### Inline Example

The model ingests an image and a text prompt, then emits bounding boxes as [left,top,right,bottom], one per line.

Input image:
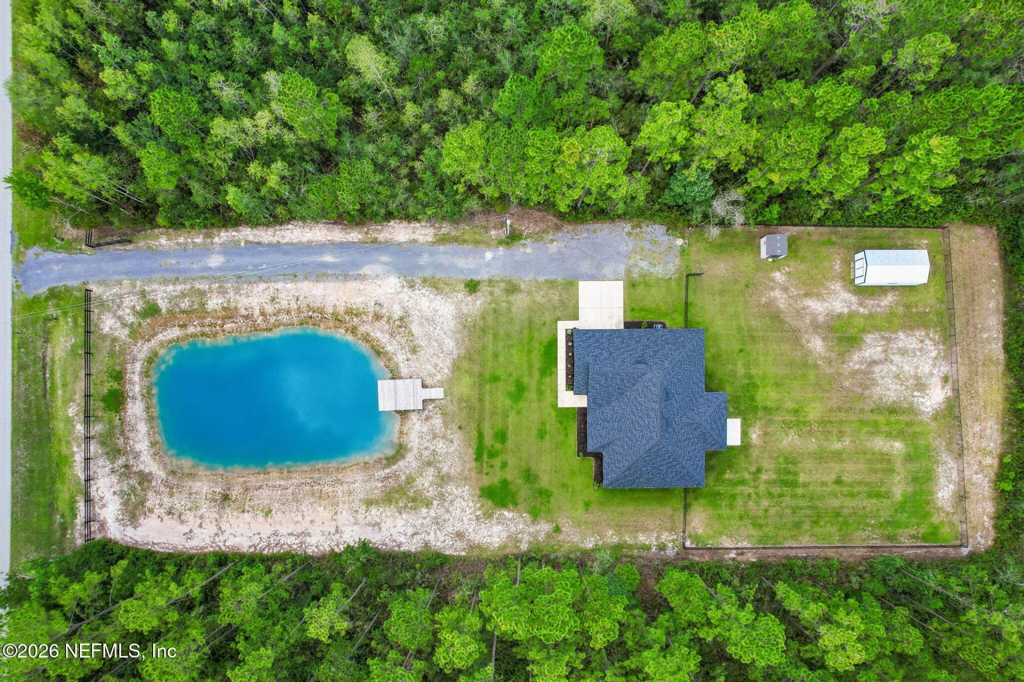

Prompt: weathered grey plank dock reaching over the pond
[377,379,443,411]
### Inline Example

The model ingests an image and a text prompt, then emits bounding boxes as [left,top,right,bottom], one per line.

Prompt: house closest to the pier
[573,328,727,488]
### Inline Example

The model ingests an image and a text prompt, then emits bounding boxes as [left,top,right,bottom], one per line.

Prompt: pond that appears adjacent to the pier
[159,329,396,468]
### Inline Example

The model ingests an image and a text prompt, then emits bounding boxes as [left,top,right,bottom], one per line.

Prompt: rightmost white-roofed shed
[854,250,931,286]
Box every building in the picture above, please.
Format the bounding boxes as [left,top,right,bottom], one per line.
[761,234,788,259]
[573,328,727,488]
[854,250,931,286]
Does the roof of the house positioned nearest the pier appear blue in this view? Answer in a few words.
Yes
